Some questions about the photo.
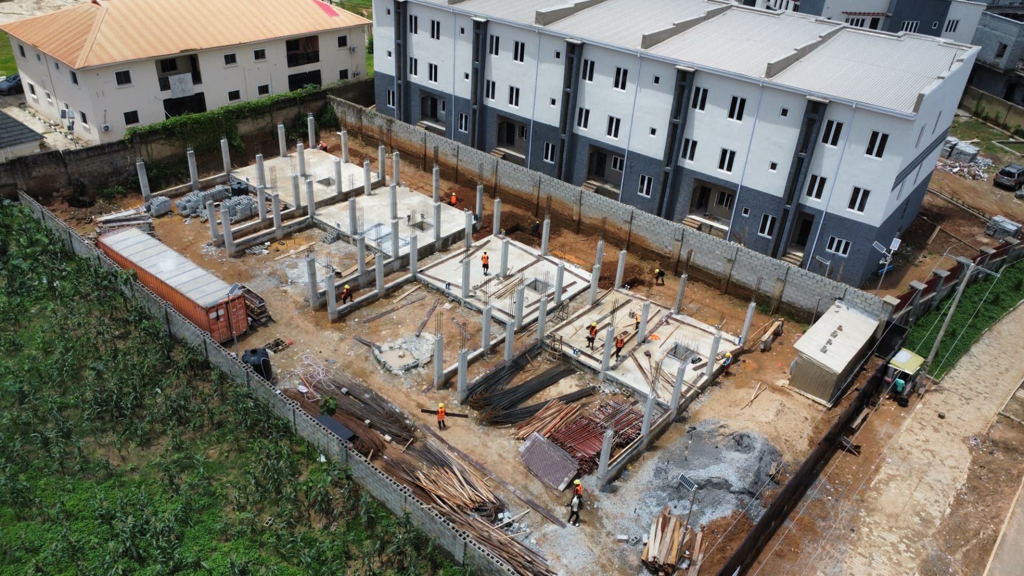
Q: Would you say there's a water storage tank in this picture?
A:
Yes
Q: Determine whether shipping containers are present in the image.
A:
Yes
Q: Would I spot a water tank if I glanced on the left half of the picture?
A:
Yes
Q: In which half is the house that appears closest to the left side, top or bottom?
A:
top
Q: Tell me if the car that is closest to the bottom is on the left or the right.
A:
right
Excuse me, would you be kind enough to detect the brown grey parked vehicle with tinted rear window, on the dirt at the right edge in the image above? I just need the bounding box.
[997,162,1024,188]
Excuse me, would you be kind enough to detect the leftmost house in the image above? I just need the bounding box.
[0,101,45,169]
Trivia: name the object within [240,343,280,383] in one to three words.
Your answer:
water tank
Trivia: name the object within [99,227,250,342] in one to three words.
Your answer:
shipping container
